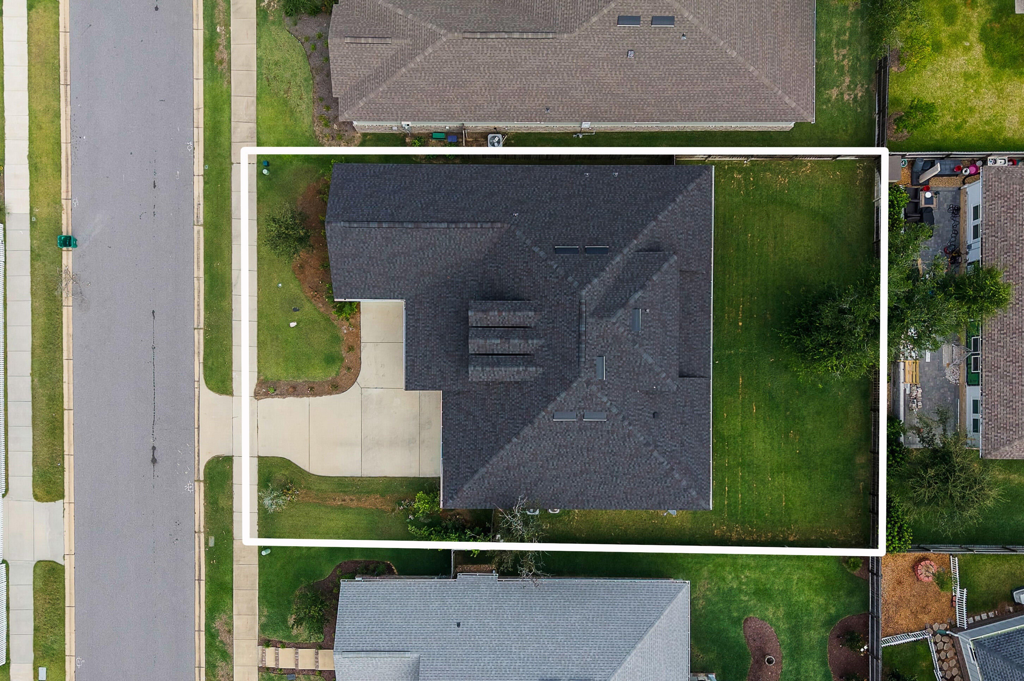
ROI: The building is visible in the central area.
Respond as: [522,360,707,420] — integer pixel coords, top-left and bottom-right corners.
[326,163,714,511]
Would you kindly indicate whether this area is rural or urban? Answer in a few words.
urban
